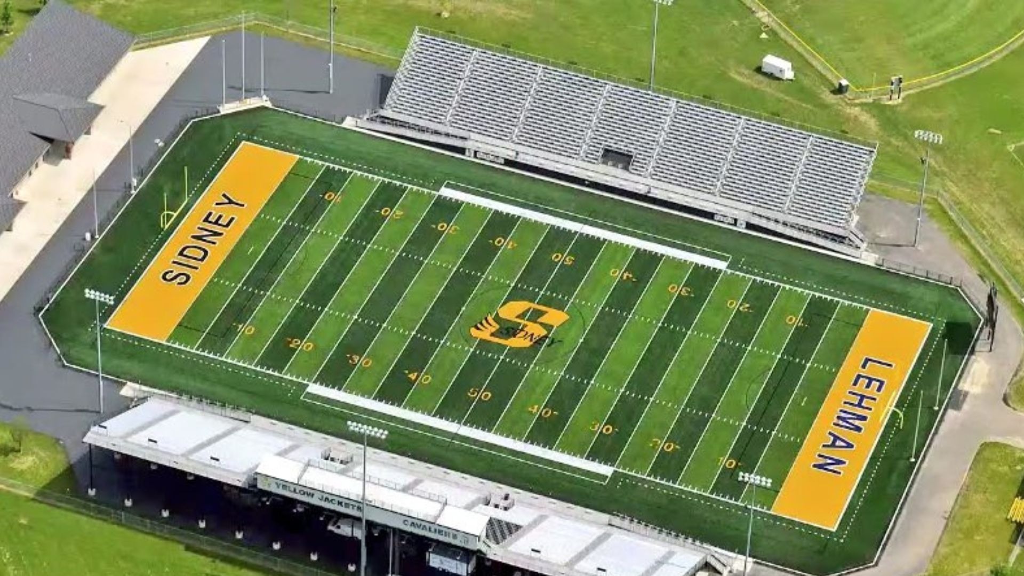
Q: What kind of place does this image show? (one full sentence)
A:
This image shows a sports ground.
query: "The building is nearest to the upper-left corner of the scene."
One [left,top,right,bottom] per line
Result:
[0,0,140,238]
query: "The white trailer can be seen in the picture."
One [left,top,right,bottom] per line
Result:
[760,53,798,80]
